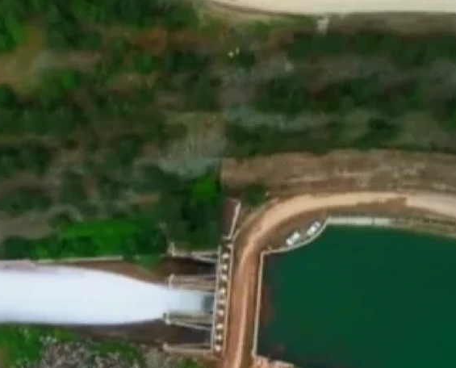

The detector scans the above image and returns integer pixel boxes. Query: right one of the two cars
[305,221,321,237]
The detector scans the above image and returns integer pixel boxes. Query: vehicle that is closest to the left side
[284,231,301,246]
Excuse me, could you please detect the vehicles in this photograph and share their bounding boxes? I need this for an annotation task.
[305,221,321,237]
[284,231,301,246]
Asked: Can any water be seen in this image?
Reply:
Yes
